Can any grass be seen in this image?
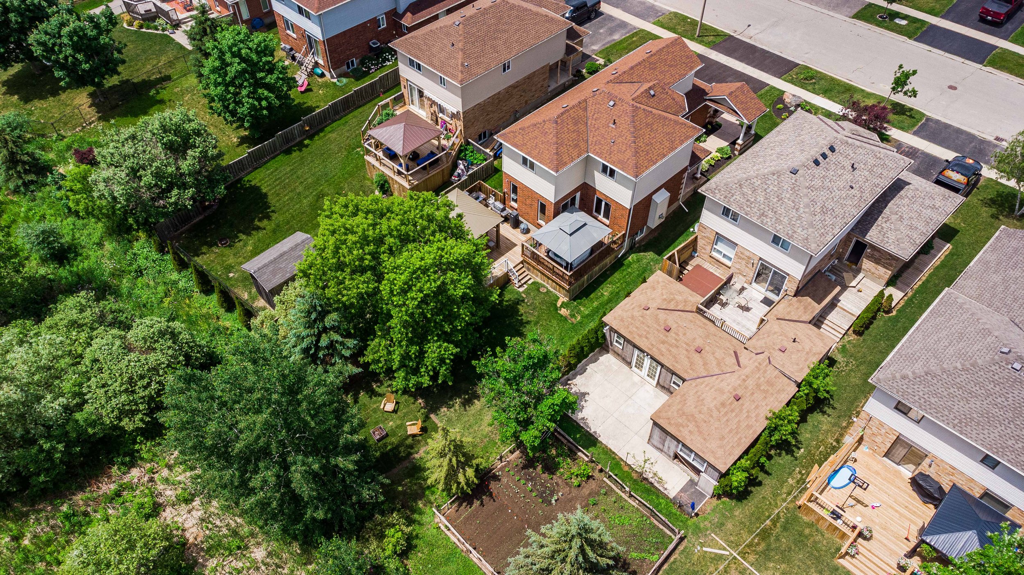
Yes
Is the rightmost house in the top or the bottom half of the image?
bottom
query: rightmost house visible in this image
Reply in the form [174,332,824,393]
[841,227,1024,521]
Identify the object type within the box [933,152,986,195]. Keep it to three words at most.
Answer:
truck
